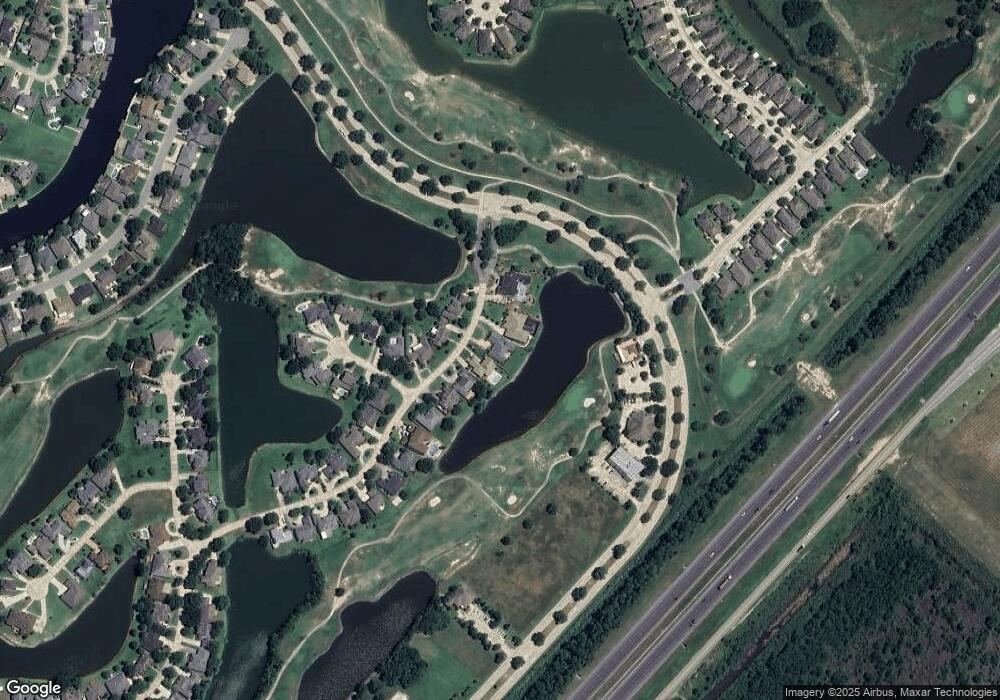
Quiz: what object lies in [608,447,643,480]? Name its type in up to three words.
building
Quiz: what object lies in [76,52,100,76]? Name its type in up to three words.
house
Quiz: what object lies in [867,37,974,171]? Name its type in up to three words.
pond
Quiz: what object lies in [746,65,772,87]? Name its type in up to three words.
house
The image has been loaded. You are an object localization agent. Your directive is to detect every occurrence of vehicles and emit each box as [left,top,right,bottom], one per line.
[786,497,798,510]
[719,576,731,590]
[827,411,840,424]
